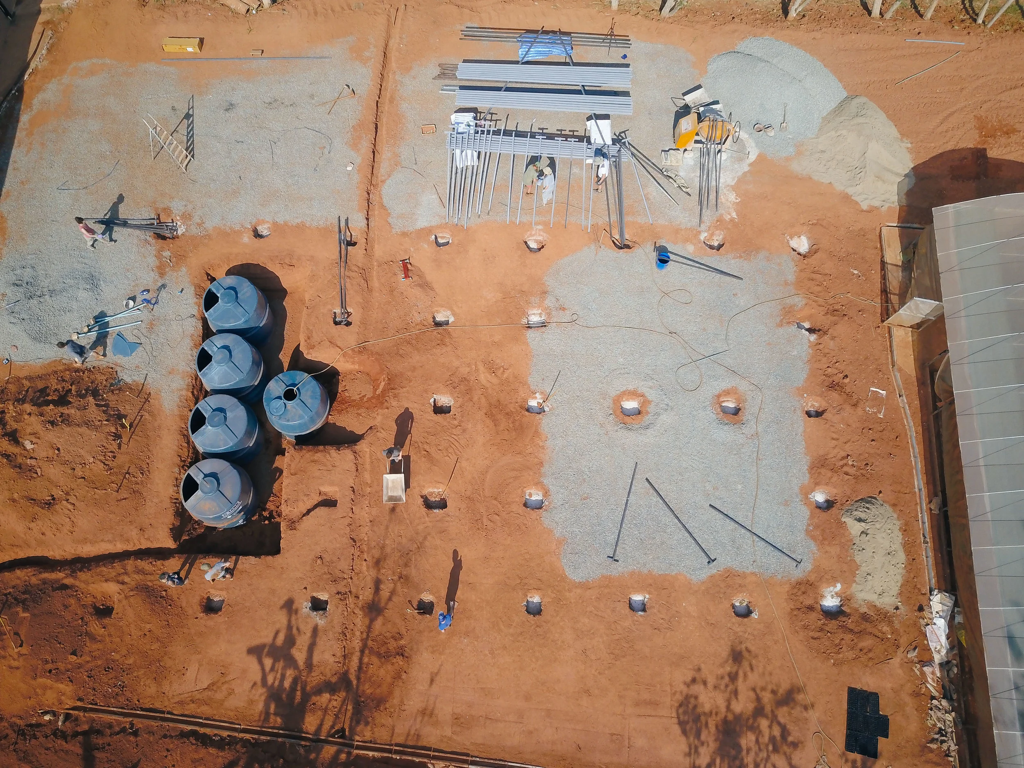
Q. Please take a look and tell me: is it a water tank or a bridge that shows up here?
water tank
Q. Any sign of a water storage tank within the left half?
Yes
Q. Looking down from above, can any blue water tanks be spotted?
Yes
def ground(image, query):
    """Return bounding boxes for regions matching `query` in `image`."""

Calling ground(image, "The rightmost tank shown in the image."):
[263,373,330,443]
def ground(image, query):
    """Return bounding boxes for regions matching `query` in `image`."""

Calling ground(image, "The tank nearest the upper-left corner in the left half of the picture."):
[202,276,271,345]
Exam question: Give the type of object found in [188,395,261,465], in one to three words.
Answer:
water tank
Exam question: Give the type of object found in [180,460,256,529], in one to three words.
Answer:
water tank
